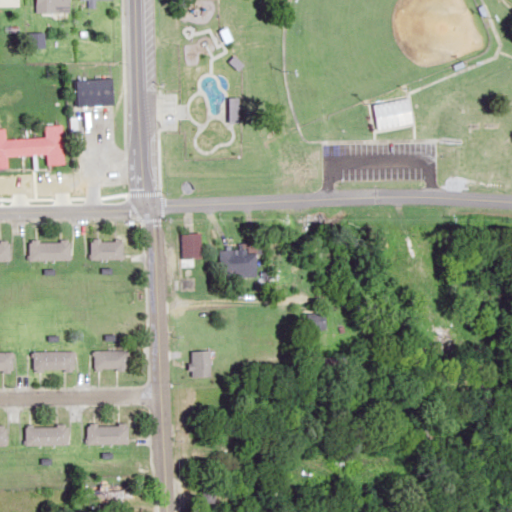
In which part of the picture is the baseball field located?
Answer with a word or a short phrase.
top right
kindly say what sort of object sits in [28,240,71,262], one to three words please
house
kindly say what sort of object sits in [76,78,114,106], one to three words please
building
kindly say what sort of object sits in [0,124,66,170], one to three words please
building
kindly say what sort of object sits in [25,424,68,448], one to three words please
house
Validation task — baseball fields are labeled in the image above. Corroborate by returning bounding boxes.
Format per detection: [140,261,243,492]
[286,0,487,125]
